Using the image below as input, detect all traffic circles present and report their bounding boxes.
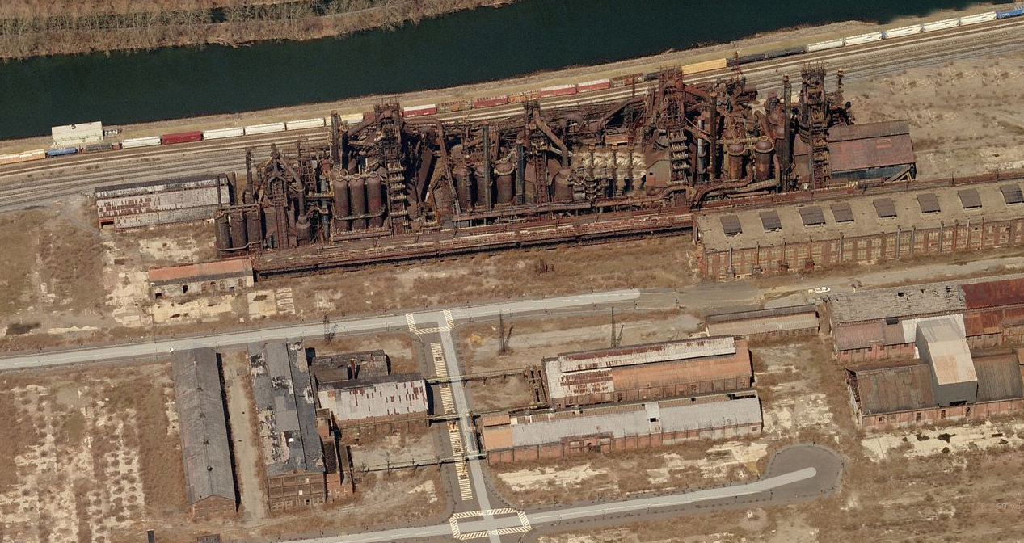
[762,437,852,504]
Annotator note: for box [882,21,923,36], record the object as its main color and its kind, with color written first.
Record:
white rail car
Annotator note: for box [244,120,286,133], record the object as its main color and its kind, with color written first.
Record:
white rail car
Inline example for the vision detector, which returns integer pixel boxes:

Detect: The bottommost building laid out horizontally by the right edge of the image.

[849,350,1024,429]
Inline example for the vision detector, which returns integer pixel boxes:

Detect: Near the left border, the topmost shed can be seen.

[50,115,103,147]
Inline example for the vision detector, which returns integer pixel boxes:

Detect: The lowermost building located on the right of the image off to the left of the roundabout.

[481,387,764,464]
